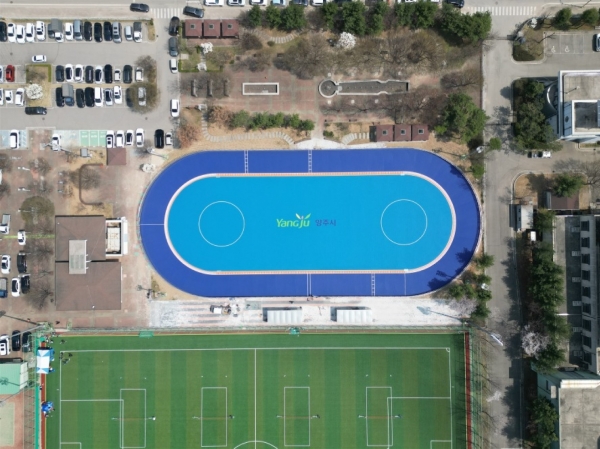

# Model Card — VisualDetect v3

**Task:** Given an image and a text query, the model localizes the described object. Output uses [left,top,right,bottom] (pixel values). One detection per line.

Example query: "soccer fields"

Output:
[40,331,471,449]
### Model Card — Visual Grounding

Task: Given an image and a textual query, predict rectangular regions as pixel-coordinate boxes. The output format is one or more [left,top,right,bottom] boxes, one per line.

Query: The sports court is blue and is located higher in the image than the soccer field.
[137,147,483,300]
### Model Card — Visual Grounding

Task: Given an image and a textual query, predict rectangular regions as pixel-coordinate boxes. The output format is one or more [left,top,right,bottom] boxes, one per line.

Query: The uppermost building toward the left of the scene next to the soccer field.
[54,215,132,312]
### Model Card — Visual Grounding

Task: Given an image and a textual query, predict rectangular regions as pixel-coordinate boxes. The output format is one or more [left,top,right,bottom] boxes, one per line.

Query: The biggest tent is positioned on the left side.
[38,347,55,373]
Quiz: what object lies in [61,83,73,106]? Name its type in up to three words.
vehicle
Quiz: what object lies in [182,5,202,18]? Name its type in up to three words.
vehicle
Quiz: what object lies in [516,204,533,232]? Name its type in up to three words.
building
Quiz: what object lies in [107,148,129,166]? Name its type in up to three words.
building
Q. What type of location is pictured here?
sports ground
